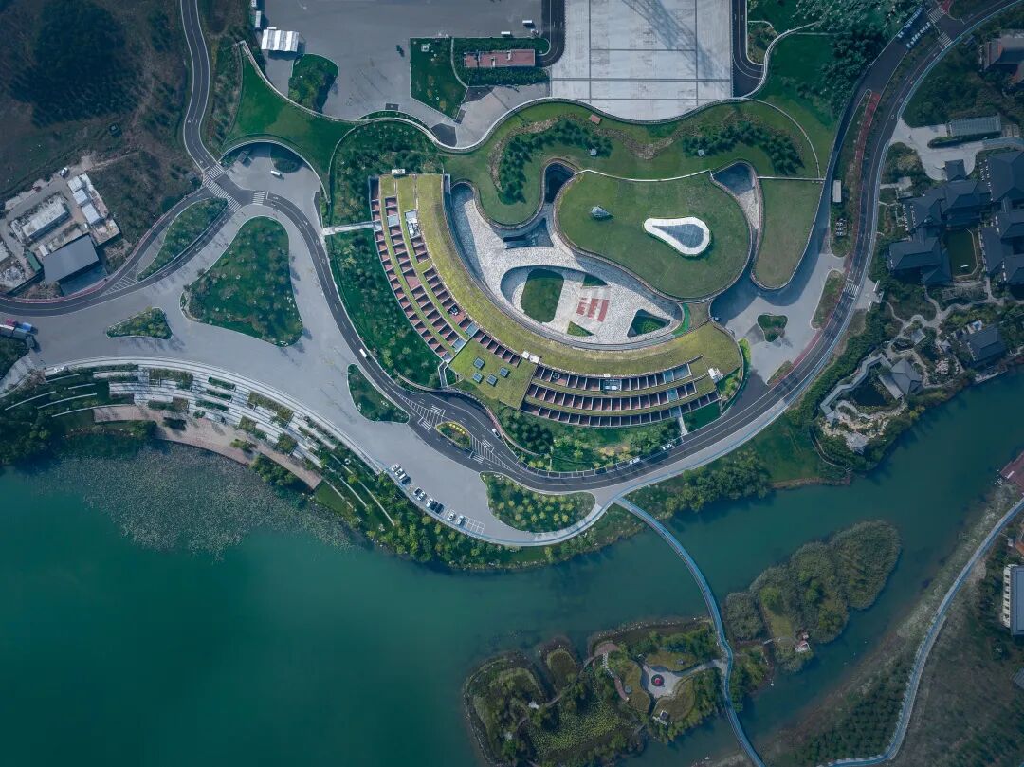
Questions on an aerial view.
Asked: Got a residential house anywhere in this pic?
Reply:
Yes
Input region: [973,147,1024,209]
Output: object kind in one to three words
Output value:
building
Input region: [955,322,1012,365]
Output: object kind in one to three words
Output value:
building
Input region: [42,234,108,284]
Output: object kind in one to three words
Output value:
shed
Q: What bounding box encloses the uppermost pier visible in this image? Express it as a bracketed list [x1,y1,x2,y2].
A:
[999,452,1024,482]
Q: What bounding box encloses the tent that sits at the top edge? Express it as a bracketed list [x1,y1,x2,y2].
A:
[262,29,301,55]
